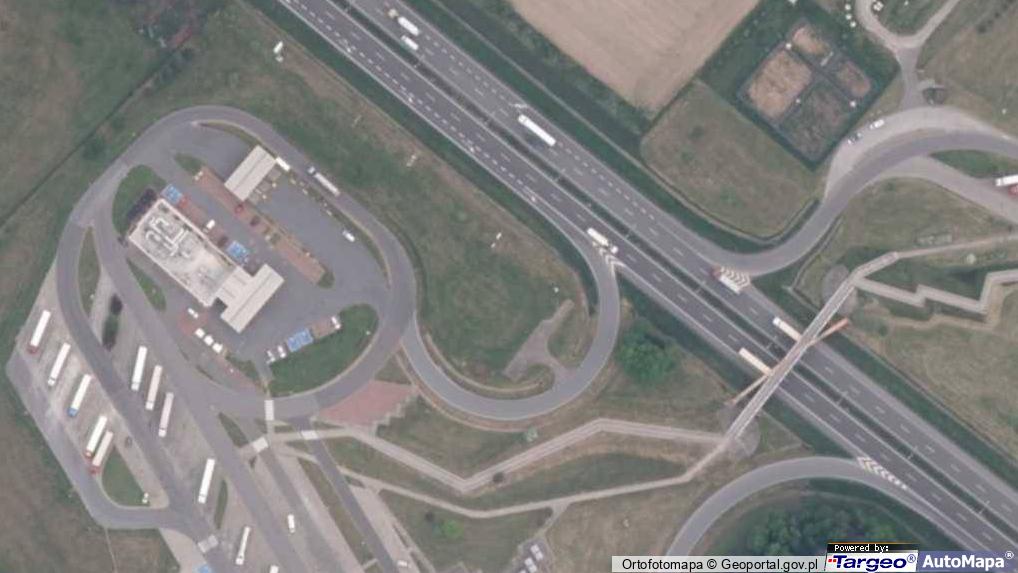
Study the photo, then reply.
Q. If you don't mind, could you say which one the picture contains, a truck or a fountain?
truck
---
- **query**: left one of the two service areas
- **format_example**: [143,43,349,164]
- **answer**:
[5,103,419,573]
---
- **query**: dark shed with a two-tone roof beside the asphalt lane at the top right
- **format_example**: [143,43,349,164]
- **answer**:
[924,86,948,103]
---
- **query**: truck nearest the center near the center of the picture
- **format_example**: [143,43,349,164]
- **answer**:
[587,227,620,256]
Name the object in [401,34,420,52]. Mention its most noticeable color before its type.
white vehicle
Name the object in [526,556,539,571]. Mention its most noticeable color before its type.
white vehicle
